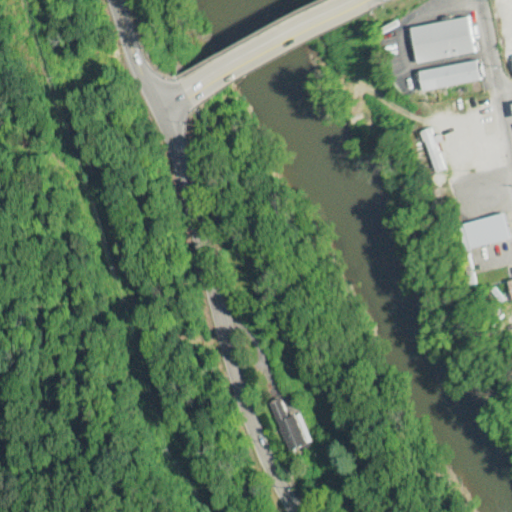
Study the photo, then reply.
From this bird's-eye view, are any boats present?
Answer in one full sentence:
No, the photo shows no boat.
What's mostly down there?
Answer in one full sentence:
What you mostly see from above here is trees.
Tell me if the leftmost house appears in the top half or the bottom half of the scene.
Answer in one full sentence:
Seen from above, the leftmost house lies in the bottom half of the view.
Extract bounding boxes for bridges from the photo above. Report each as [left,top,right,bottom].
[179,0,340,108]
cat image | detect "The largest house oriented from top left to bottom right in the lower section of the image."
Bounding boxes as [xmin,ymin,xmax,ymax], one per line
[270,398,313,450]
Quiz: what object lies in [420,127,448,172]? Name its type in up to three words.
shed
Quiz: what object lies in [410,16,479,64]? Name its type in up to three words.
building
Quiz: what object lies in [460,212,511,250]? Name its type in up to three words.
building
